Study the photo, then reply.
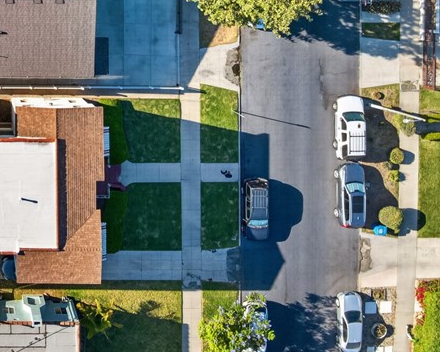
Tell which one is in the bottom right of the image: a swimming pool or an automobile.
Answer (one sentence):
Looking in the bottom right of the image, you will find an automobile.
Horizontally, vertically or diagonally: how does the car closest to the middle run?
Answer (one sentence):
Seen from above, the car closest to the middle lies vertically.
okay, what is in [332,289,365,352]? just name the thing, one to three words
car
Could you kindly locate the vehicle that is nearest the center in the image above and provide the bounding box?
[241,177,272,239]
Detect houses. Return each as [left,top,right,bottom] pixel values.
[0,0,98,82]
[0,93,126,284]
[0,294,83,352]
